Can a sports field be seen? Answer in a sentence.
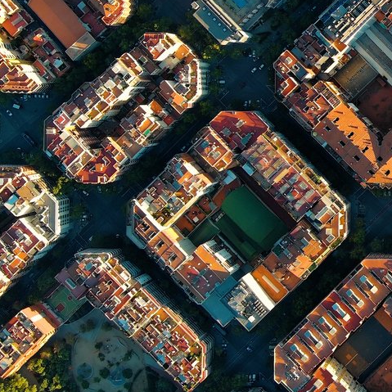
Yes, a sports field can be made out from above.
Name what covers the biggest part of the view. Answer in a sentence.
The scene is dominated by buildings.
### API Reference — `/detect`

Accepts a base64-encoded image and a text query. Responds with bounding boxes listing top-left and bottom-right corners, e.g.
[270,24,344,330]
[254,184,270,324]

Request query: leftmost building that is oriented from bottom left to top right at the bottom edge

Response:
[0,296,73,377]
